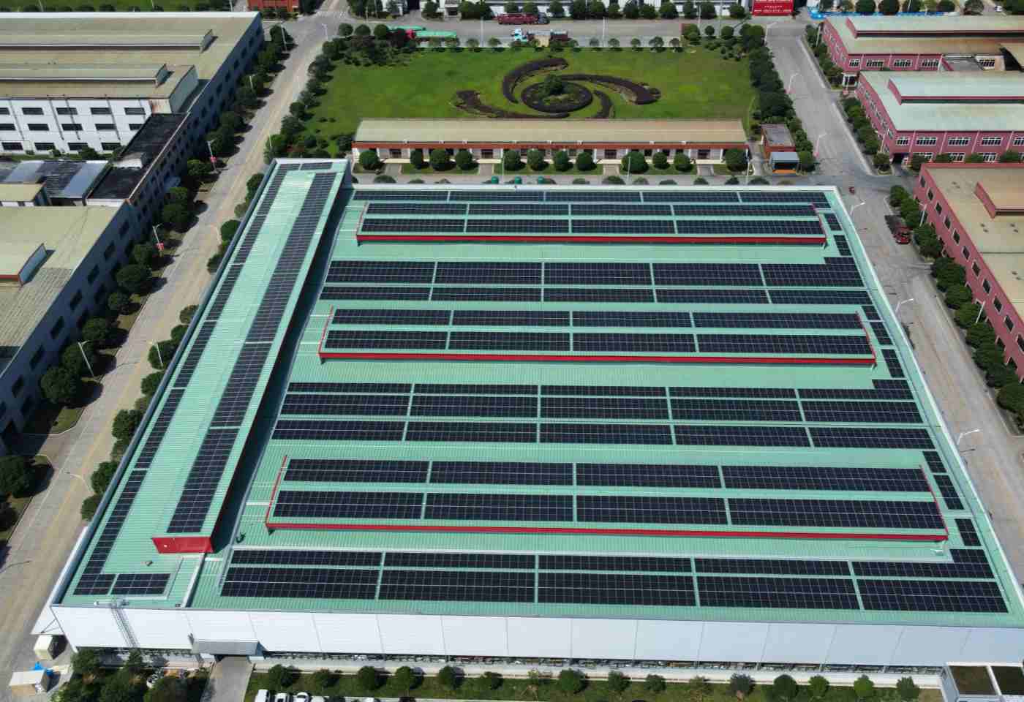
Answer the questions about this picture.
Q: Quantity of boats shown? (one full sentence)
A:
There are no boats in this view.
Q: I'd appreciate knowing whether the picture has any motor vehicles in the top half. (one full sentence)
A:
Yes, a motor vehicle appears in the top half.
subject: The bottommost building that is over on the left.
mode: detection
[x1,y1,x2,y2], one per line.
[2,672,45,696]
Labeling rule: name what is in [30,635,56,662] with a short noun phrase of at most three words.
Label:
building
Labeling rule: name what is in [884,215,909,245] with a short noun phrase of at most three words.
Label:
truck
